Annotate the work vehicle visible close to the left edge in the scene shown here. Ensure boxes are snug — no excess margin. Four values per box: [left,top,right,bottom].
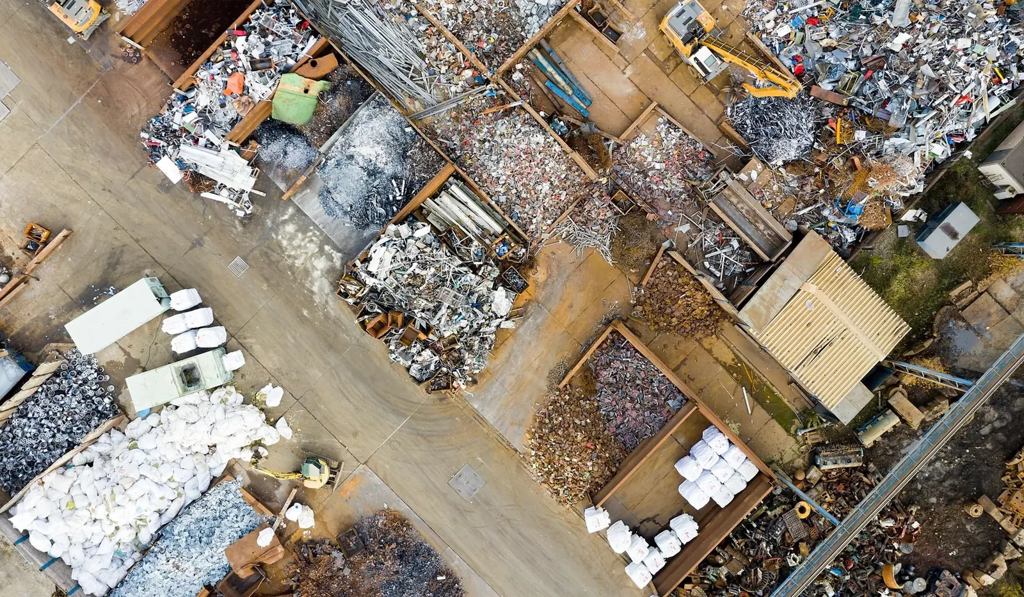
[35,0,121,42]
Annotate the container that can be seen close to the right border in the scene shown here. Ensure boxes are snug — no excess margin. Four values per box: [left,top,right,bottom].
[893,201,981,262]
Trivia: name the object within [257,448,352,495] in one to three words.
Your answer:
work vehicle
